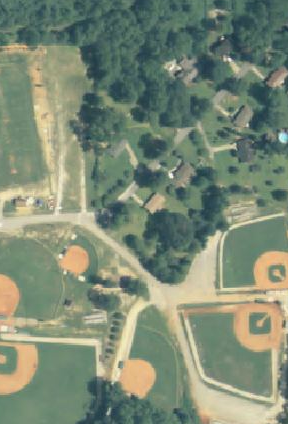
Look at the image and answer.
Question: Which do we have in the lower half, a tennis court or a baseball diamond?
baseball diamond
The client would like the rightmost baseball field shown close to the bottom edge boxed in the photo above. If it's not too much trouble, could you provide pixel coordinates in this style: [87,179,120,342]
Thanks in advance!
[182,303,283,403]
